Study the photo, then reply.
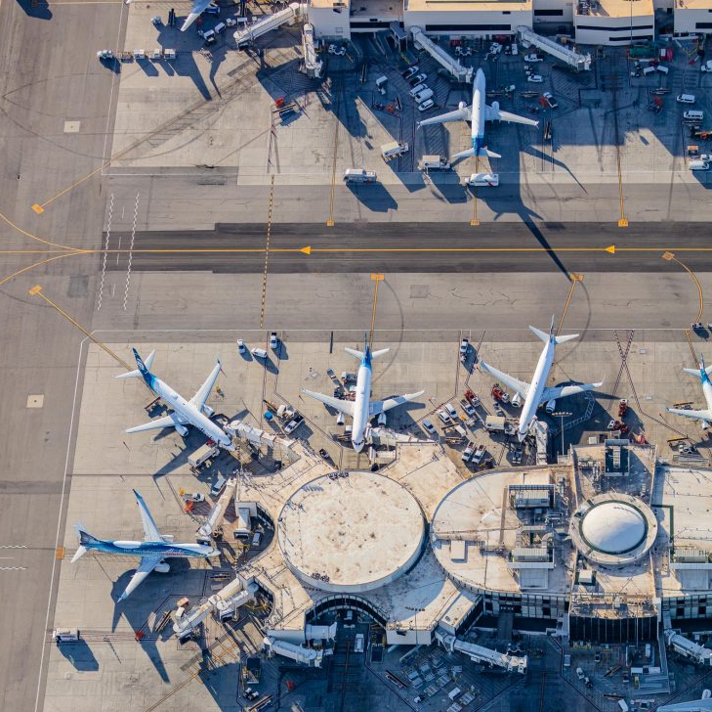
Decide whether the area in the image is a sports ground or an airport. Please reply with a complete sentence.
The area seen from above is an airport.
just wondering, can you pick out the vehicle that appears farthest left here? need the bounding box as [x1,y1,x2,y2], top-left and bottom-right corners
[51,626,80,640]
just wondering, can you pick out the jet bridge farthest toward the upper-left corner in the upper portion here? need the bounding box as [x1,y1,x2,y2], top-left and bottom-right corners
[227,2,308,55]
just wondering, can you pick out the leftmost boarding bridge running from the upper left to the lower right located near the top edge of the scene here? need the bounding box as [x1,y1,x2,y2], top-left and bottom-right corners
[415,25,478,86]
